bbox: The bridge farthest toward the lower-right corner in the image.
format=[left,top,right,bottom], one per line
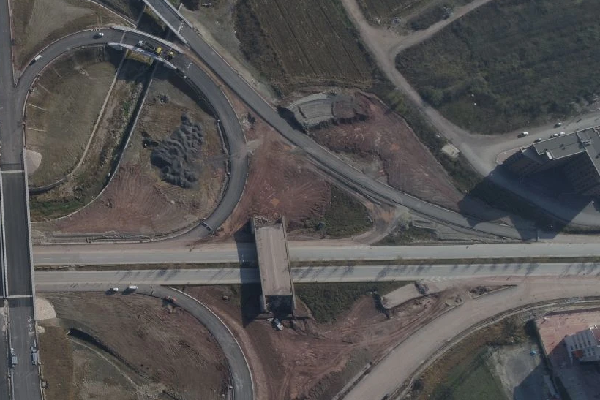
[379,282,425,309]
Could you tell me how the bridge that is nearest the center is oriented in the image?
up and down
